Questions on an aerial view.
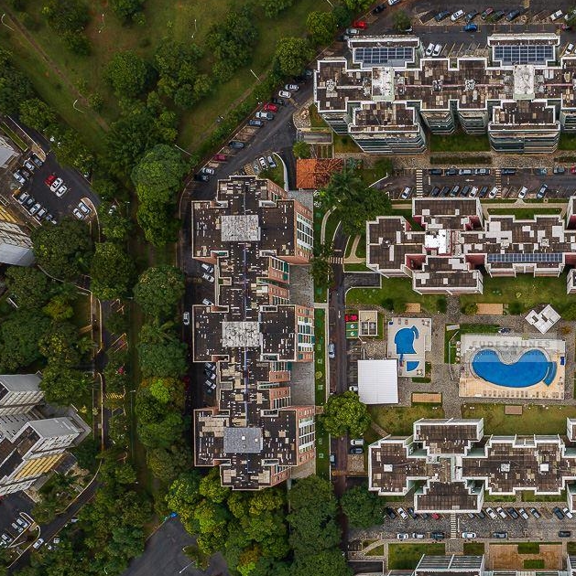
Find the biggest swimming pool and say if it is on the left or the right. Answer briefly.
right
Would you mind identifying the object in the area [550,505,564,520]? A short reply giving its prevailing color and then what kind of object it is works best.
black vehicle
